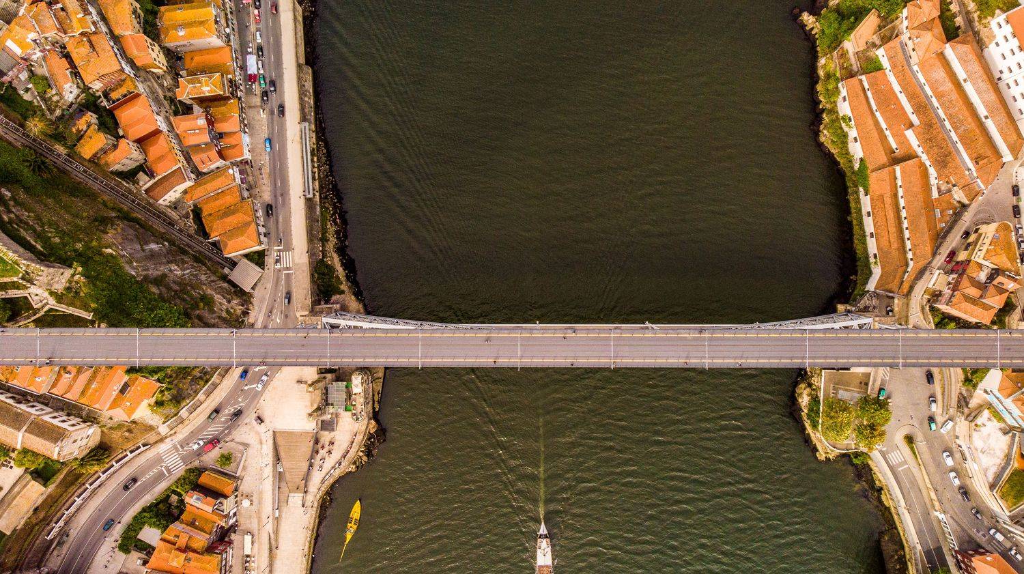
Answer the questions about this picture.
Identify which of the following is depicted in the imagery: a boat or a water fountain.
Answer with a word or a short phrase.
boat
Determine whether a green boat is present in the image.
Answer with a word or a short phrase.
No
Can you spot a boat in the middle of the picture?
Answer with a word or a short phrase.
No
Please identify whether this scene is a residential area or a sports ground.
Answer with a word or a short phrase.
residential area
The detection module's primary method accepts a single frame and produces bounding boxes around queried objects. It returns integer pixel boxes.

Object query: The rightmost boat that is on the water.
[532,524,553,574]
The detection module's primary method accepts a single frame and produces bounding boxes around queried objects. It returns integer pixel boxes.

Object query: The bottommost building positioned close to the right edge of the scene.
[952,542,1016,574]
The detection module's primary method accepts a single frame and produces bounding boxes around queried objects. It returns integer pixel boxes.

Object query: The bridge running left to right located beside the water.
[0,306,1024,368]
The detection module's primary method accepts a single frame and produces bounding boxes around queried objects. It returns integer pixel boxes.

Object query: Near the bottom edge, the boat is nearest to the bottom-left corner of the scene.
[340,500,360,562]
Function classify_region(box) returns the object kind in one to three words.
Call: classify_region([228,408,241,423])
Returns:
vehicle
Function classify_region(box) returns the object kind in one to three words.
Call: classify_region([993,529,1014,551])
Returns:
truck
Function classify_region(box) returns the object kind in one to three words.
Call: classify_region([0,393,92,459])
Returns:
building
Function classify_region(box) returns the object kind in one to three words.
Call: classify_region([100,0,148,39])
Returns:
house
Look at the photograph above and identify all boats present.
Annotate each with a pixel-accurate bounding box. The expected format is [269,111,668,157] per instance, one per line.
[340,500,360,562]
[532,524,553,574]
